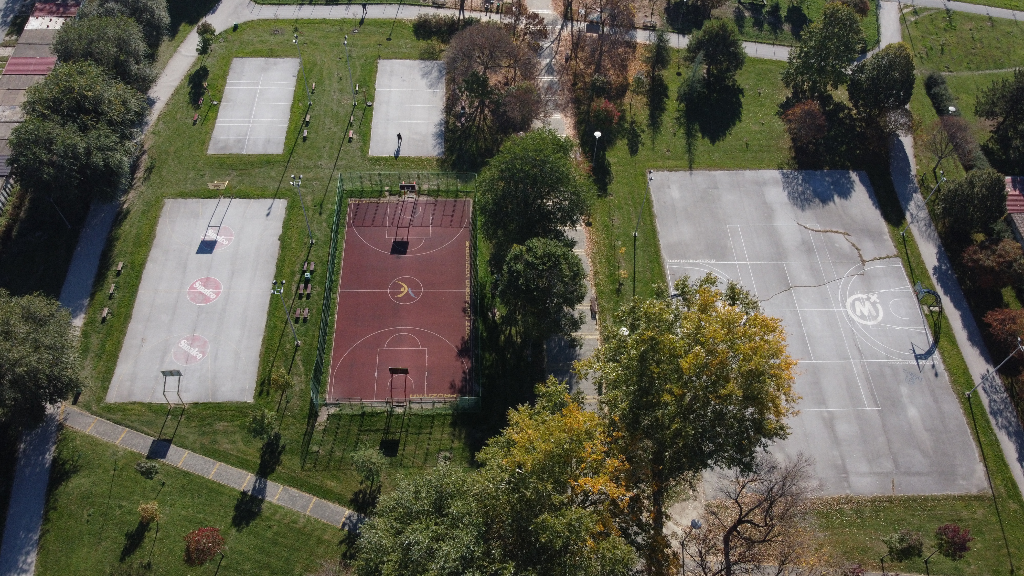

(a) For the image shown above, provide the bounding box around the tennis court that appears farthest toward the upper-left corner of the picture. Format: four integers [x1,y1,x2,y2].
[208,57,300,154]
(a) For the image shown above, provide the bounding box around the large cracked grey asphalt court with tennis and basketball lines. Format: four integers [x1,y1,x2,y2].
[649,170,987,497]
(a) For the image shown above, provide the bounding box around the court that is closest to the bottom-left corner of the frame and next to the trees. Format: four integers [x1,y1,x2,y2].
[106,199,287,403]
